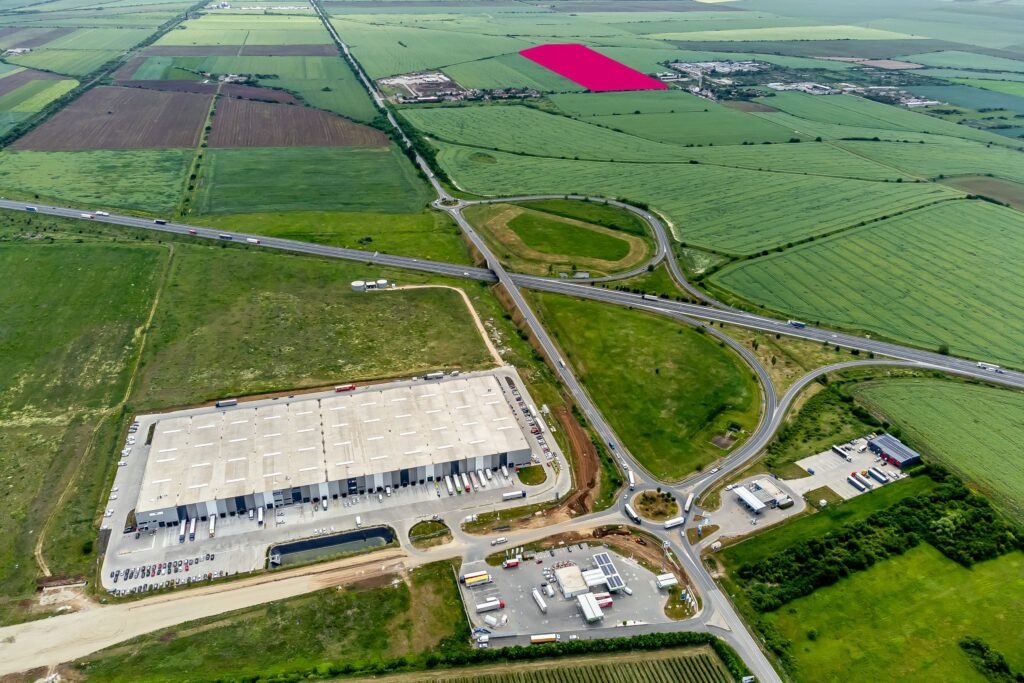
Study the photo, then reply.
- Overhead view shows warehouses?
Yes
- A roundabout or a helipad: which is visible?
roundabout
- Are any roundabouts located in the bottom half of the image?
Yes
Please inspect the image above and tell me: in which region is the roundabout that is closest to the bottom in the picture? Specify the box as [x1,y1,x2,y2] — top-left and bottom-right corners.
[618,478,696,533]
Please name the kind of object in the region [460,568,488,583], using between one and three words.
vehicle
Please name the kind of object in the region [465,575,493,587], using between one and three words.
vehicle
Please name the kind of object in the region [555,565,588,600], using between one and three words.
building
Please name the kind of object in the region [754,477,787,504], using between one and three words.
building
